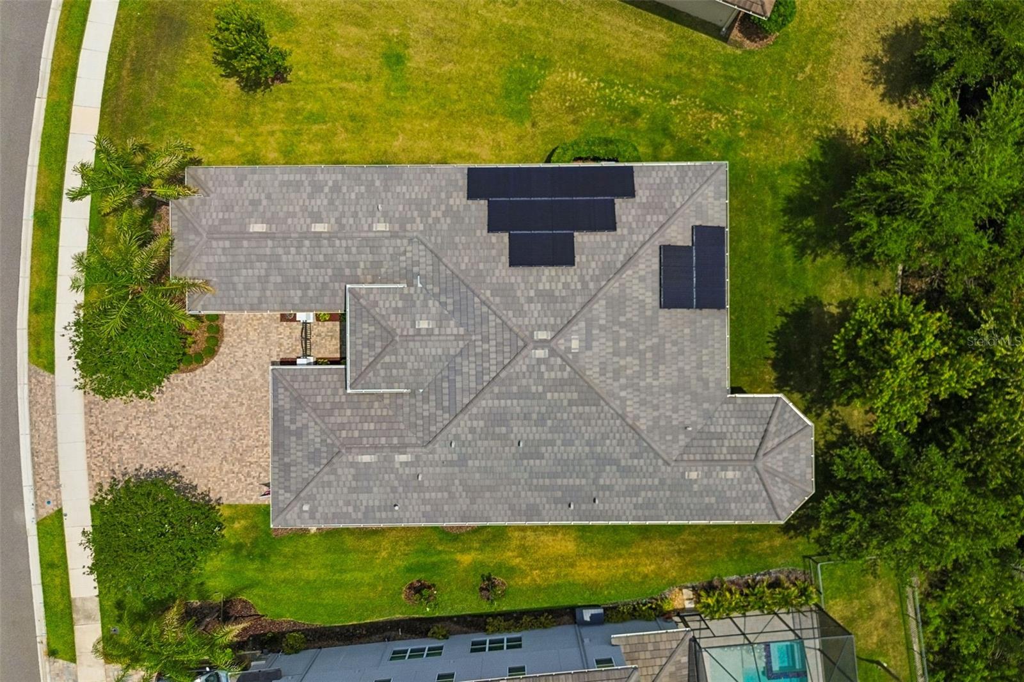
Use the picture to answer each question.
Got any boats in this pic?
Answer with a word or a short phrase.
No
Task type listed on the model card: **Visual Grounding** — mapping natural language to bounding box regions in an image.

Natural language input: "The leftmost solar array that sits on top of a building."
[465,165,636,264]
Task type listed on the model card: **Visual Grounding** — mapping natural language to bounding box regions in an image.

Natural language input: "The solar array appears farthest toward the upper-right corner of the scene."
[662,225,727,310]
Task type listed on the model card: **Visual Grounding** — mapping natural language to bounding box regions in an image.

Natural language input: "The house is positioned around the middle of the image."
[166,160,815,530]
